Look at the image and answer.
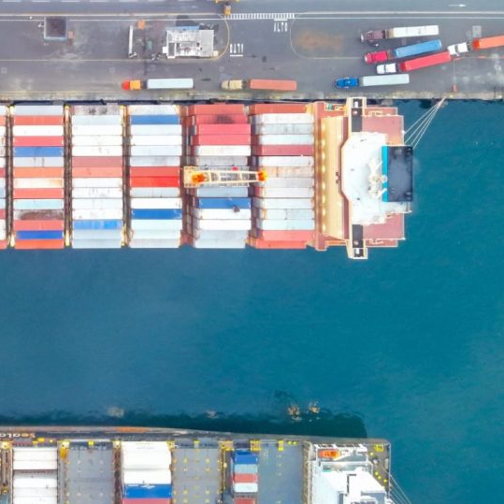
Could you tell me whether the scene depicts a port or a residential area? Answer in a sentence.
This image shows a port.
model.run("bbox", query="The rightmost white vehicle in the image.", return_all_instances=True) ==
[444,42,472,55]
